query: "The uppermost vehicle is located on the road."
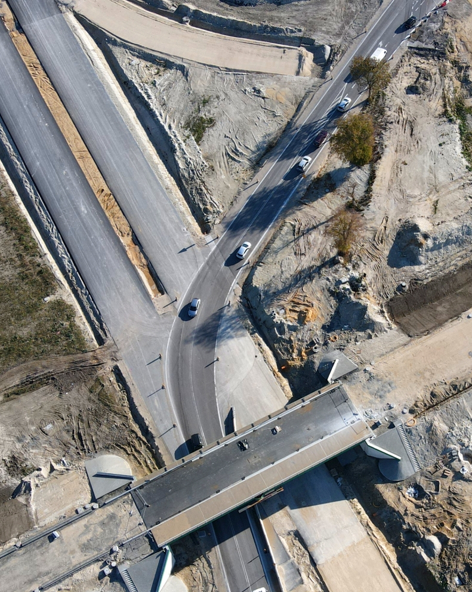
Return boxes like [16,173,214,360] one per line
[405,15,418,28]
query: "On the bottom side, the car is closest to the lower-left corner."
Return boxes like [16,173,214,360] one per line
[189,431,204,451]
